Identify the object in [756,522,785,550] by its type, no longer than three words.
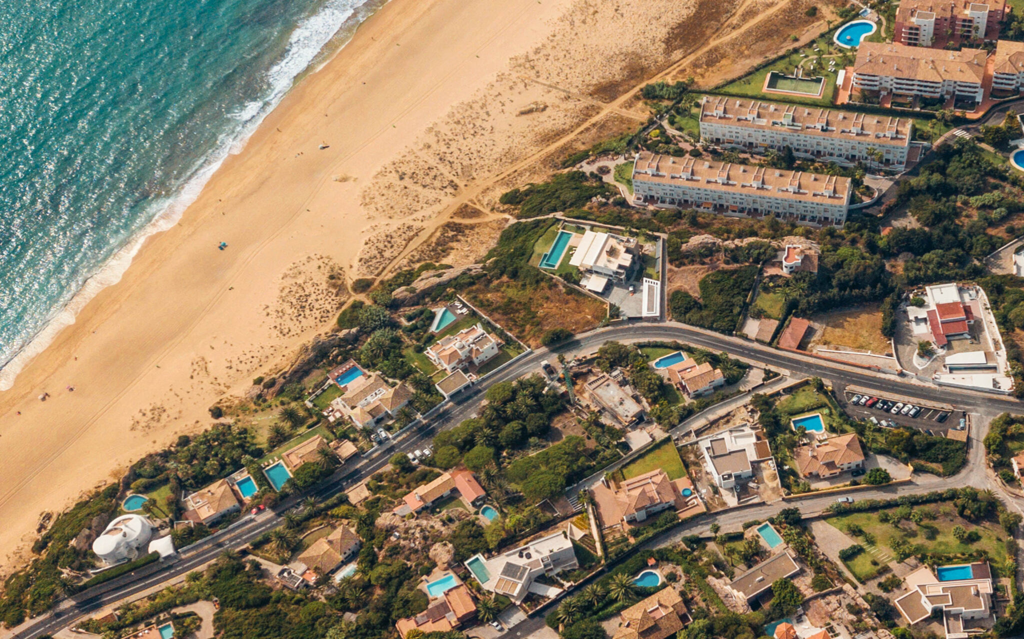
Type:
swimming pool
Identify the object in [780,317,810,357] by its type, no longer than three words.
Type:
shed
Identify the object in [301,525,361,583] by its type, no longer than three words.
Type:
house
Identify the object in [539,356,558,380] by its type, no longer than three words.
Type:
vehicle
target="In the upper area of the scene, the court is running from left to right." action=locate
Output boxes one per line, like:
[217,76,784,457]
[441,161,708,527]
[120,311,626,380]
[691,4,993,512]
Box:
[767,71,822,92]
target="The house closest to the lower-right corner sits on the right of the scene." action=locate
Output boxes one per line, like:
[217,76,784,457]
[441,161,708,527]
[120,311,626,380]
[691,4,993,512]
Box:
[893,579,992,639]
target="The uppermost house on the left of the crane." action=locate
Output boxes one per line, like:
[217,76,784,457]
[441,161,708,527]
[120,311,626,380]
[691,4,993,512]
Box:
[424,323,504,374]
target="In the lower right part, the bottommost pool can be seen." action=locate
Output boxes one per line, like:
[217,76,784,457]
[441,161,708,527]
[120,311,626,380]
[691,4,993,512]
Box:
[756,618,792,639]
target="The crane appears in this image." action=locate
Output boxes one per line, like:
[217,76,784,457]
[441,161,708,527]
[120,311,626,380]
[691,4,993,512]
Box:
[541,319,604,411]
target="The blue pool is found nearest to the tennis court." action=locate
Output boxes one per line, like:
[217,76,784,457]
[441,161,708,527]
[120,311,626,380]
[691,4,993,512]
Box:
[835,20,876,48]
